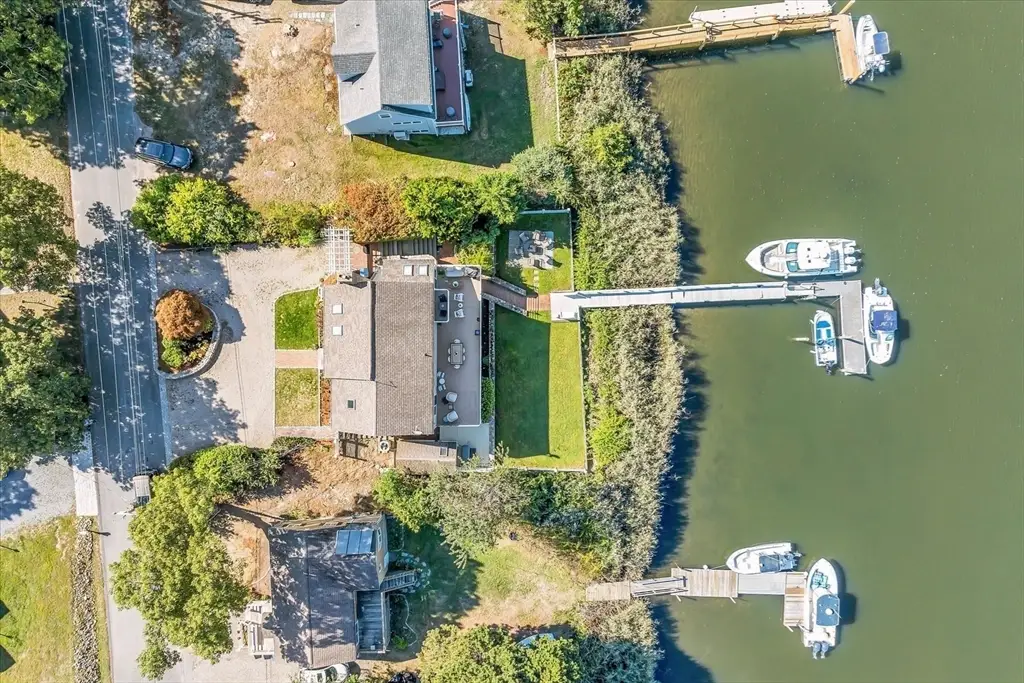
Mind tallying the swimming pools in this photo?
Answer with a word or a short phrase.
0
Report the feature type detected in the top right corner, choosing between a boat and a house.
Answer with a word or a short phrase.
boat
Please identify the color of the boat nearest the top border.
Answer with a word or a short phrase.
white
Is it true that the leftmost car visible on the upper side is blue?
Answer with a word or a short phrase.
Yes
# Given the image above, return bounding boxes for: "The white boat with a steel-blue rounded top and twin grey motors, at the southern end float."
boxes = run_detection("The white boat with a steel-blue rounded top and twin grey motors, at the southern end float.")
[804,557,841,653]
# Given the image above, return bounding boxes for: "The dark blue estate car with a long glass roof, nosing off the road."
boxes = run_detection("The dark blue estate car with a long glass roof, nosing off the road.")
[135,137,197,173]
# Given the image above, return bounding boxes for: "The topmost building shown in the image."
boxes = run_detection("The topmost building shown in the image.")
[333,0,445,131]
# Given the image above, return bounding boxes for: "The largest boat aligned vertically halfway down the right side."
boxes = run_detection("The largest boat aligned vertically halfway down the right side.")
[862,283,898,364]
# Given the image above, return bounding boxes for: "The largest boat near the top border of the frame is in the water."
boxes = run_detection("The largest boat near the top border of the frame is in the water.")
[858,14,890,82]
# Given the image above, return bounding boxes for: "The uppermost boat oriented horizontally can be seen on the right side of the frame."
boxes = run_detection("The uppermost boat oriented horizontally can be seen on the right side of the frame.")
[745,238,861,280]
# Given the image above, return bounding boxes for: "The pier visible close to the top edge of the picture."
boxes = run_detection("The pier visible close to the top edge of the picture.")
[547,13,832,63]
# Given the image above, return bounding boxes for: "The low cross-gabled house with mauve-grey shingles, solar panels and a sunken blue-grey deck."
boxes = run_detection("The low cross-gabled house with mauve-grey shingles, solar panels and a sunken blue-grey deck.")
[269,516,390,664]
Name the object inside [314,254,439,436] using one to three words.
house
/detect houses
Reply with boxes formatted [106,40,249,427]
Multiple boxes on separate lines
[333,0,445,131]
[314,254,439,436]
[269,516,390,664]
